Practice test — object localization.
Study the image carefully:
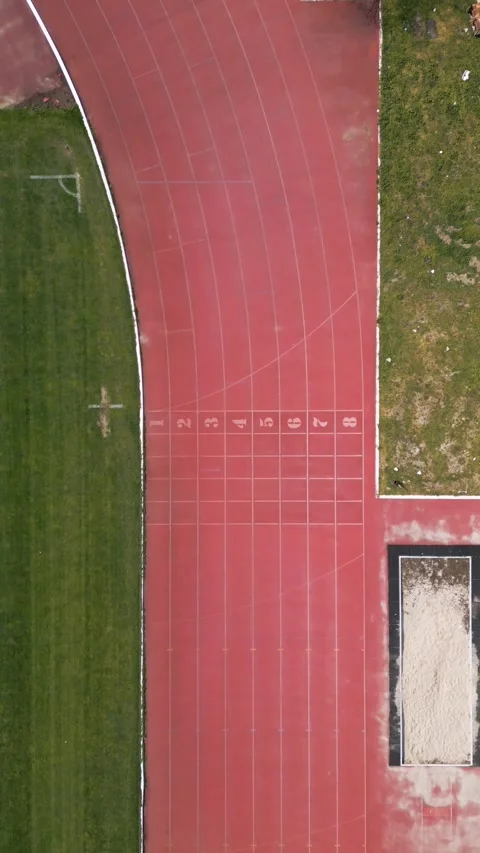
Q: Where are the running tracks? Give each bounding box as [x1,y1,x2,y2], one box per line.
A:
[31,0,380,853]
